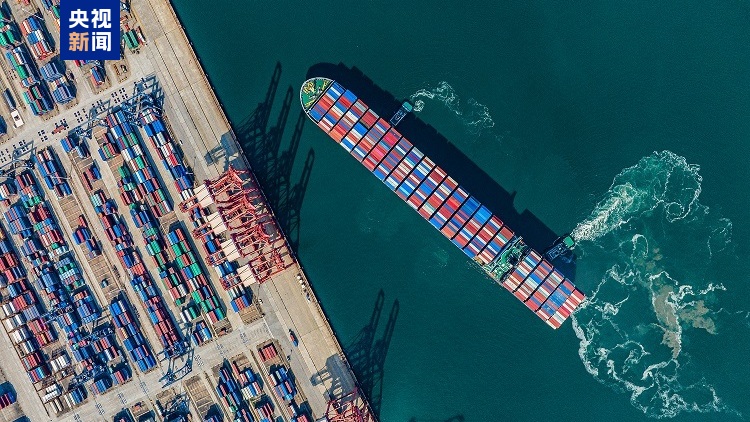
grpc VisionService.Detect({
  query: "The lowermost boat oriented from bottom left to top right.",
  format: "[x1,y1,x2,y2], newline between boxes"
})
[546,235,575,259]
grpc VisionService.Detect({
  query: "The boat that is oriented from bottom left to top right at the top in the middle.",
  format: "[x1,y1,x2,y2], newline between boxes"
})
[391,100,412,127]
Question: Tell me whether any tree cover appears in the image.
No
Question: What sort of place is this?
port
